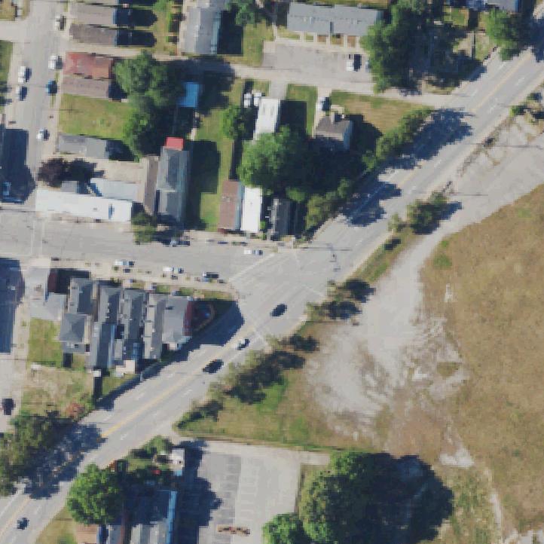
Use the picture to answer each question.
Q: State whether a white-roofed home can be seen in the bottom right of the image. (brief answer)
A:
No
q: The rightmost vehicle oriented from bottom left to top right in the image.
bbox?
[271,303,286,317]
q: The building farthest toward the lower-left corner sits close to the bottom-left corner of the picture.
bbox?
[74,524,101,544]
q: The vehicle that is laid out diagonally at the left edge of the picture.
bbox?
[15,515,29,531]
